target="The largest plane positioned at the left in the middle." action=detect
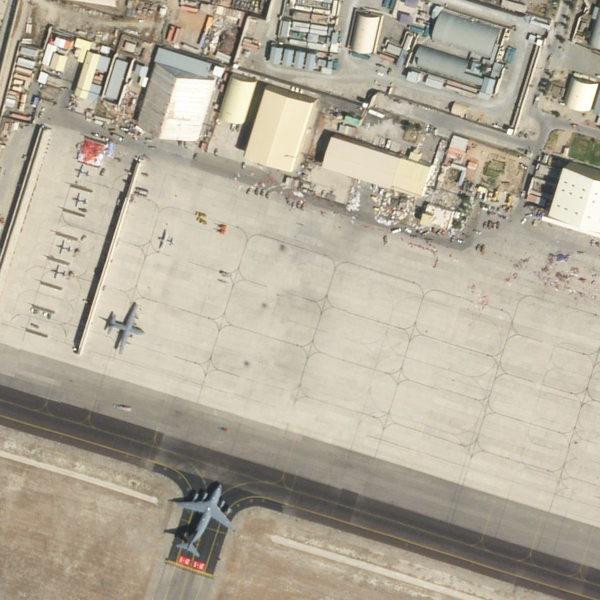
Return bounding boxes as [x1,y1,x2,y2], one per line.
[106,305,144,353]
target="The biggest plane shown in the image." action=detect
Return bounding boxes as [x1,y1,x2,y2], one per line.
[173,487,234,556]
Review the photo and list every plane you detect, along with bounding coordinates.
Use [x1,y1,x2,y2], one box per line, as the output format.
[54,266,68,279]
[57,241,73,255]
[74,194,89,208]
[78,166,92,180]
[173,487,234,556]
[106,305,144,353]
[160,230,174,250]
